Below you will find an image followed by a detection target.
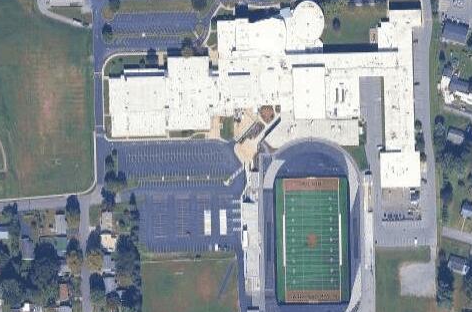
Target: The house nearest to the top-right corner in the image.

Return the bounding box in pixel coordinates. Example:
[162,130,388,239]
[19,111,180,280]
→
[443,21,470,42]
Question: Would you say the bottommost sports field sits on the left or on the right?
right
